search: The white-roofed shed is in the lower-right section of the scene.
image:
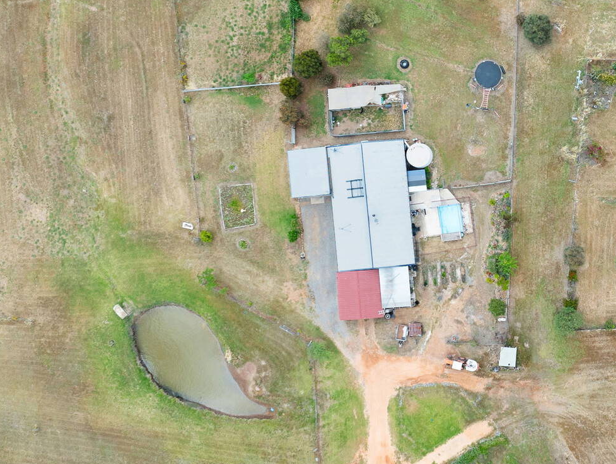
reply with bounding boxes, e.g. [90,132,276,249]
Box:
[499,346,517,367]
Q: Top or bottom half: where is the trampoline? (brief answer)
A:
top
